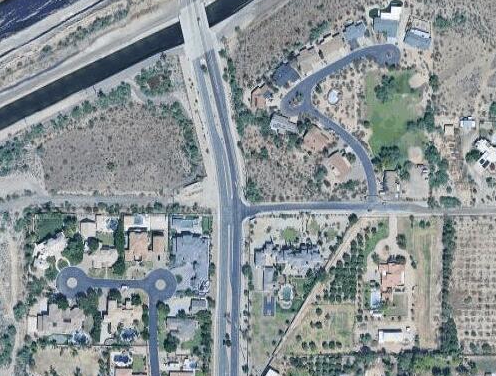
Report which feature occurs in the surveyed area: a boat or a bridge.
bridge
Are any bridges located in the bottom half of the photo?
No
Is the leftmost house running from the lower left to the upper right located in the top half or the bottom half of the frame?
bottom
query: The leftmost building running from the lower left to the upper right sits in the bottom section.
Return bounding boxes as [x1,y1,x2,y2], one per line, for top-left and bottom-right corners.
[31,230,70,271]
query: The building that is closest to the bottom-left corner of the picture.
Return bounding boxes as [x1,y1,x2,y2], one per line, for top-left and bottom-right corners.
[41,304,87,332]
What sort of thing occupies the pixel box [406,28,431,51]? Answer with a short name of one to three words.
house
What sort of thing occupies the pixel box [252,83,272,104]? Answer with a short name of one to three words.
house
